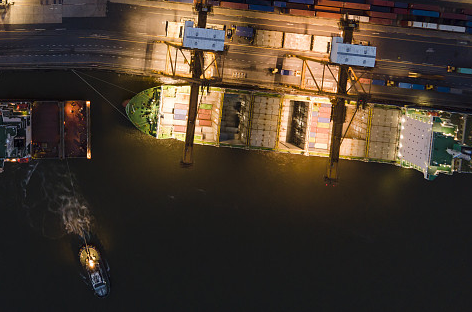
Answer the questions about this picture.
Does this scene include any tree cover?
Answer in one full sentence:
No, tree cover can't be seen anywhere here.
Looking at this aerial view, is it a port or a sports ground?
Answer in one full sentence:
The area seen from above is a port.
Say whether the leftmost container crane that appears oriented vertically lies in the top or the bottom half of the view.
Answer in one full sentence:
The leftmost container crane that appears oriented vertically is in the top half of the image.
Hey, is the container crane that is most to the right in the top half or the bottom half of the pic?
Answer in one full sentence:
The container crane that is most to the right sits in the top half of the picture.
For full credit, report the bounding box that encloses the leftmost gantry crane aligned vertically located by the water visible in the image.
[152,0,230,170]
